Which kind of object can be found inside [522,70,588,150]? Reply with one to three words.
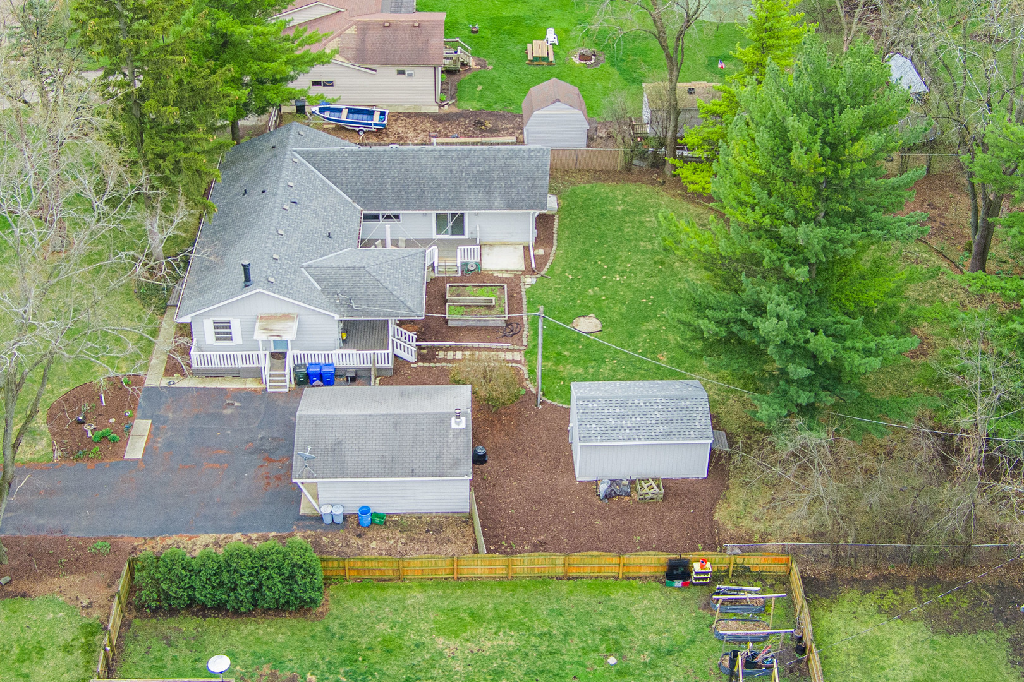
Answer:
shed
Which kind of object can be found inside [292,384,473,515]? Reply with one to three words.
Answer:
building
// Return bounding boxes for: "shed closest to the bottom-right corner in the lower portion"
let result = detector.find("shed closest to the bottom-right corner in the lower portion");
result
[570,380,715,481]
